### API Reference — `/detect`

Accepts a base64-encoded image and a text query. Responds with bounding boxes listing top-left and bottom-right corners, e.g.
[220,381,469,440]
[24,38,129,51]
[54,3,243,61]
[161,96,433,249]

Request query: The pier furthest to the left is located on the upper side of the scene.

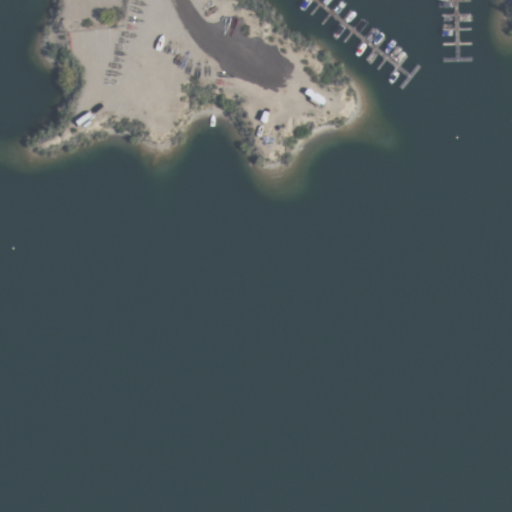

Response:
[310,0,422,88]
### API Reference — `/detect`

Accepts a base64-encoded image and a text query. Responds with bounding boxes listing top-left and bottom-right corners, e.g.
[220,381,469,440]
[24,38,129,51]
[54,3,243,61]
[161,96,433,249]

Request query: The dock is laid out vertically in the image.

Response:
[441,0,472,62]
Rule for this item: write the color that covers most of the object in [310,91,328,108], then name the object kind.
white vehicle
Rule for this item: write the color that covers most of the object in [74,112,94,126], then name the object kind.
white vehicle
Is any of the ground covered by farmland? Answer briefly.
No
